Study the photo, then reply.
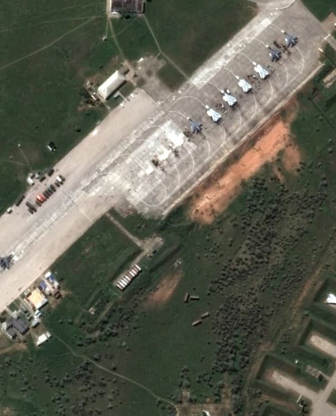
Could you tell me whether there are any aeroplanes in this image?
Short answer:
Yes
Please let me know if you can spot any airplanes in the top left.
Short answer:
No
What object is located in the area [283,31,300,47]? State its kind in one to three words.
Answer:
airplane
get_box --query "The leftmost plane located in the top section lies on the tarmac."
[190,119,205,134]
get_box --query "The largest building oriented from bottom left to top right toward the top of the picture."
[96,70,127,100]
